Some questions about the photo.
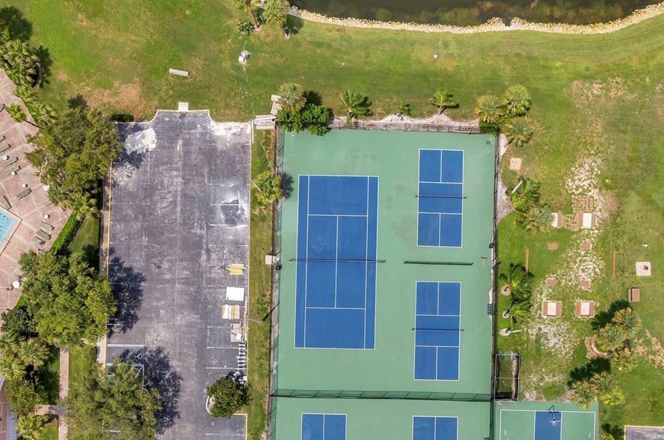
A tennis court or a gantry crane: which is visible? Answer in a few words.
tennis court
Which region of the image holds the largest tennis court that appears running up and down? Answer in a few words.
center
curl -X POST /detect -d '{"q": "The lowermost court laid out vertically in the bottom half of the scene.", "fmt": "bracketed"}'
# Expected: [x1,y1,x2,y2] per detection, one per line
[414,281,461,380]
